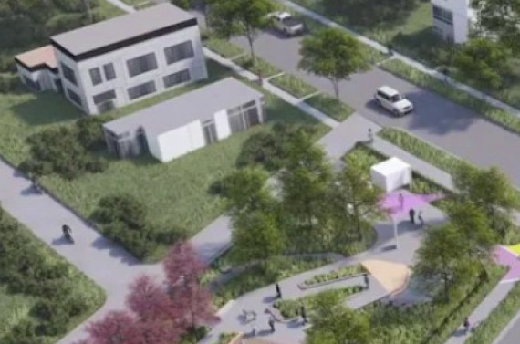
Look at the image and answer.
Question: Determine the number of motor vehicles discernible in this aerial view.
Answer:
2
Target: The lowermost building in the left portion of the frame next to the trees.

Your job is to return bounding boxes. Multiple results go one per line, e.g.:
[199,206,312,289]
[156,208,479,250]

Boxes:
[104,77,268,163]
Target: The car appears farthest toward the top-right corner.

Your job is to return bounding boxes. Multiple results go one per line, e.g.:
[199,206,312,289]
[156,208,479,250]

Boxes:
[373,83,414,113]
